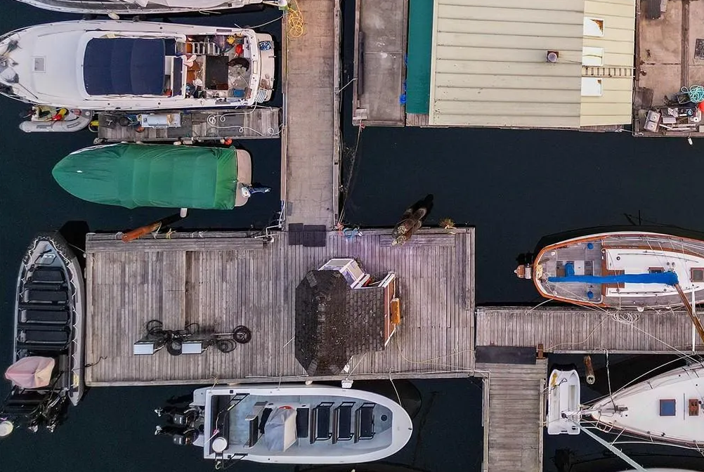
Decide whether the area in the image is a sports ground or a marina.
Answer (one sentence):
This image shows a marina.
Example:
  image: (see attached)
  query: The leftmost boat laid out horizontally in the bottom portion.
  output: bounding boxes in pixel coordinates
[170,380,414,468]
